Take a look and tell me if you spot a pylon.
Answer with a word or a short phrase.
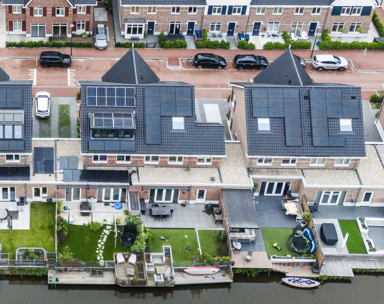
No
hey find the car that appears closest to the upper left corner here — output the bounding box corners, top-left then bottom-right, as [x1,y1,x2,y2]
[39,50,73,67]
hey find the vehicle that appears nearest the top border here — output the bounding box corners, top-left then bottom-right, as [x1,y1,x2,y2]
[94,26,109,49]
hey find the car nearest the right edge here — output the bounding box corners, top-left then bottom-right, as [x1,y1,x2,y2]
[311,53,349,70]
